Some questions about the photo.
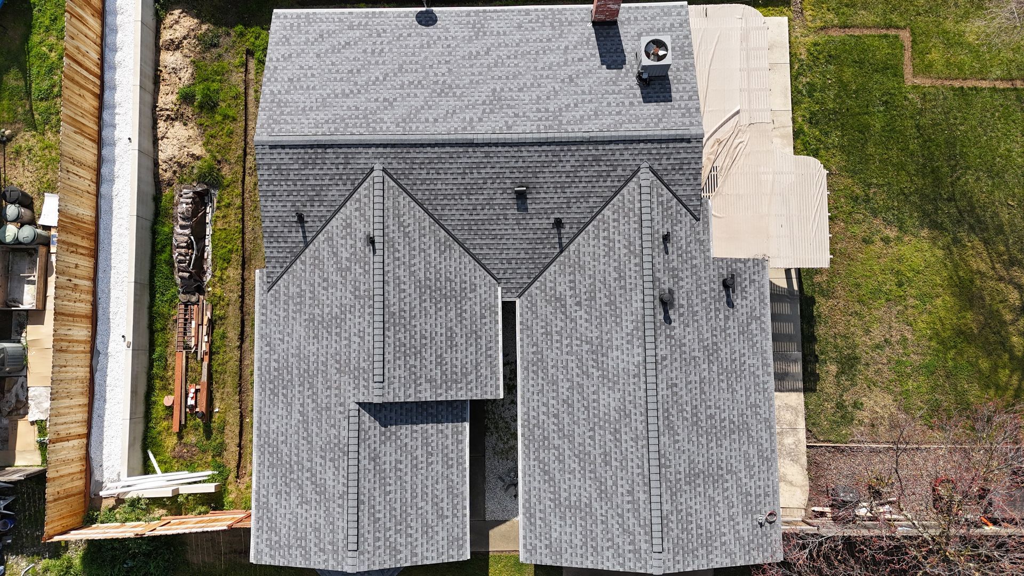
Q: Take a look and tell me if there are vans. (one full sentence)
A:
No, no van can be seen from above.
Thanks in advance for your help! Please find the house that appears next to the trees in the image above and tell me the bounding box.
[250,0,783,576]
